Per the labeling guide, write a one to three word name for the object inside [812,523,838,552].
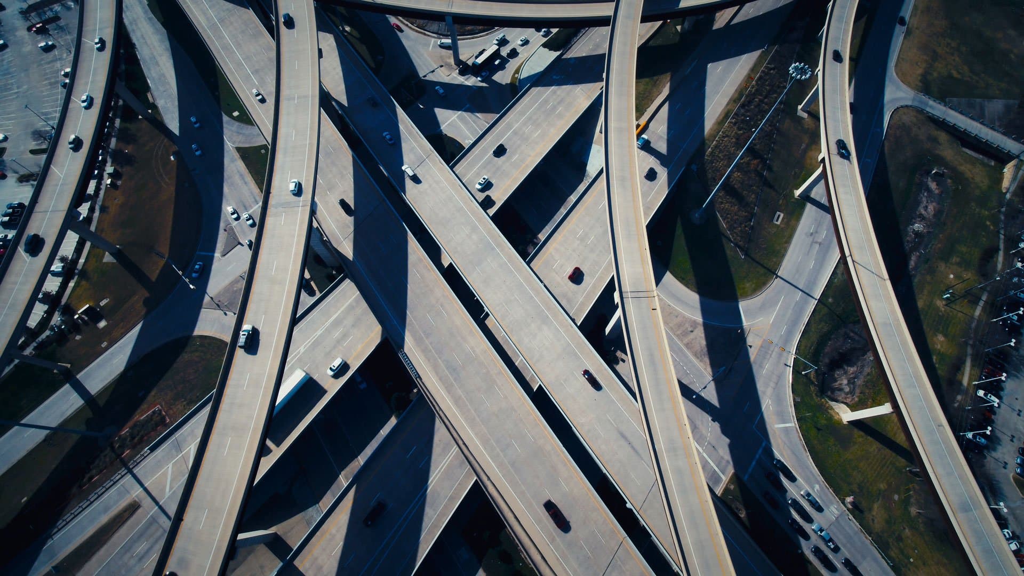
truck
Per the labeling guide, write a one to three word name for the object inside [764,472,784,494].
car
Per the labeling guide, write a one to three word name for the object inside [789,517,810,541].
car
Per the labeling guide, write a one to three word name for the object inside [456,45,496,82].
truck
